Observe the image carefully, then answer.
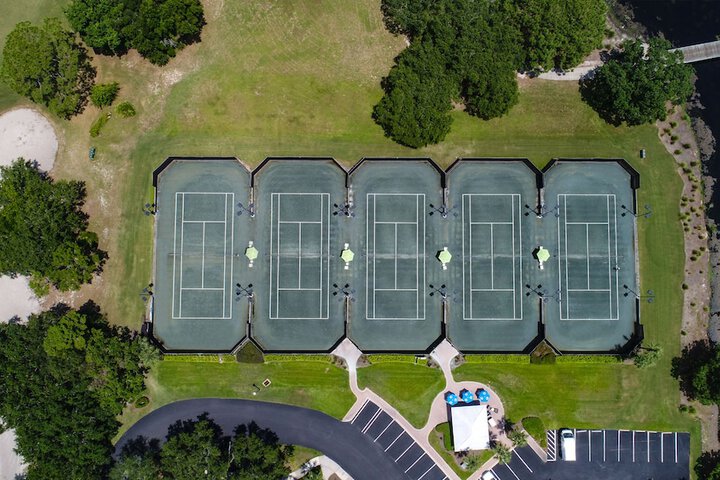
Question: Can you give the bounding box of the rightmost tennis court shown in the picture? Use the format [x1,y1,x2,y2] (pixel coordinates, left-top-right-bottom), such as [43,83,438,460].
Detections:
[539,162,638,353]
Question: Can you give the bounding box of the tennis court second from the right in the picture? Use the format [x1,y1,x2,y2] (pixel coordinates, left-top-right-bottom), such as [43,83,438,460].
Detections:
[444,161,541,353]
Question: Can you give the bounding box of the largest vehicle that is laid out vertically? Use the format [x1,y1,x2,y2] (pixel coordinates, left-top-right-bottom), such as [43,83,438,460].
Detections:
[562,429,577,463]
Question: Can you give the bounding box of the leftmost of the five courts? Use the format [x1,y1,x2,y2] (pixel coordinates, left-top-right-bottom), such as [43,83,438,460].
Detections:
[153,160,252,353]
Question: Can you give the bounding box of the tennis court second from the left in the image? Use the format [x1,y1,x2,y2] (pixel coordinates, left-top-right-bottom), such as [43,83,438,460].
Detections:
[250,160,348,353]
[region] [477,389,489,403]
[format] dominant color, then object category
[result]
blue umbrella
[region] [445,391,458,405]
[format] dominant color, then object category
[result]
blue umbrella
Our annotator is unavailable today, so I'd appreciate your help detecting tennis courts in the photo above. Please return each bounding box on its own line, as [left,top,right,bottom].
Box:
[539,162,638,353]
[153,160,252,353]
[250,160,348,353]
[347,161,444,353]
[444,161,541,353]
